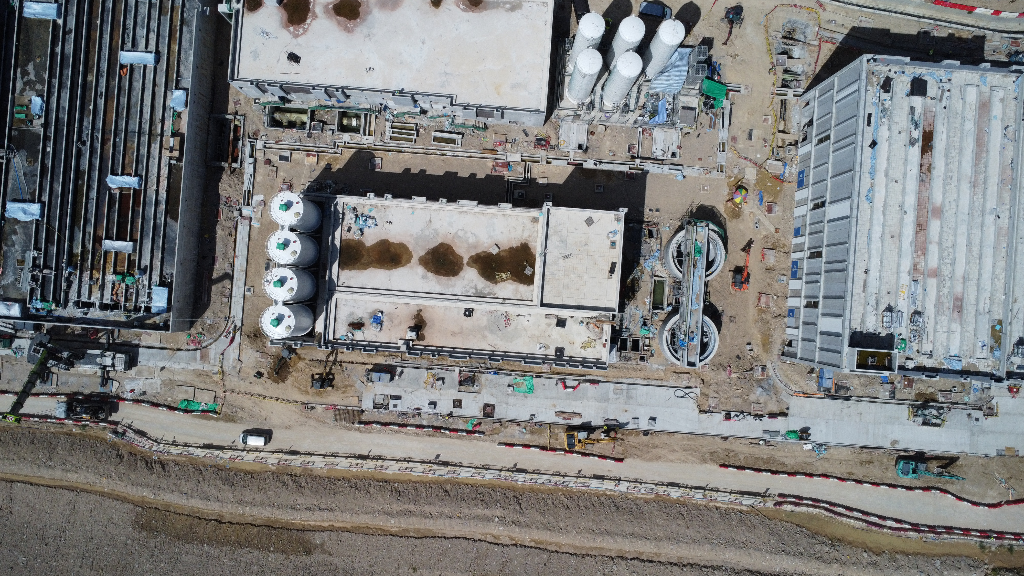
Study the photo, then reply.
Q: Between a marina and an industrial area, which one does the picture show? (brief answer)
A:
industrial area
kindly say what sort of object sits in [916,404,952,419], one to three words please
work vehicle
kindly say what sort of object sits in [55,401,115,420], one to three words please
vehicle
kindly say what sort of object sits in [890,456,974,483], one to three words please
work vehicle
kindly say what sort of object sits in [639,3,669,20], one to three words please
car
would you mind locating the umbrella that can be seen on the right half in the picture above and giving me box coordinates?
[733,188,748,203]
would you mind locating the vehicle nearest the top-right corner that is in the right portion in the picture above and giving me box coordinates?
[721,0,744,46]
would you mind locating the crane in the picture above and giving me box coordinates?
[0,331,138,425]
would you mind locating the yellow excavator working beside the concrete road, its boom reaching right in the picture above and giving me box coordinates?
[559,429,628,451]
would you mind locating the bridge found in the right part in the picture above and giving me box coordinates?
[674,225,708,369]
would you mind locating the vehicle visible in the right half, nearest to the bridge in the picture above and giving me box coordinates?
[728,245,753,294]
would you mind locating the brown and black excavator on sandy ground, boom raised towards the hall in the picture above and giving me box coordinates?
[311,349,334,396]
